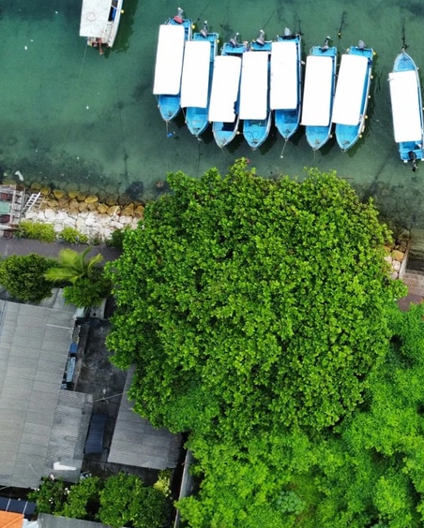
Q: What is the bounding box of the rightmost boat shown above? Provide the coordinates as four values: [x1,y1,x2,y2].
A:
[389,50,424,172]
